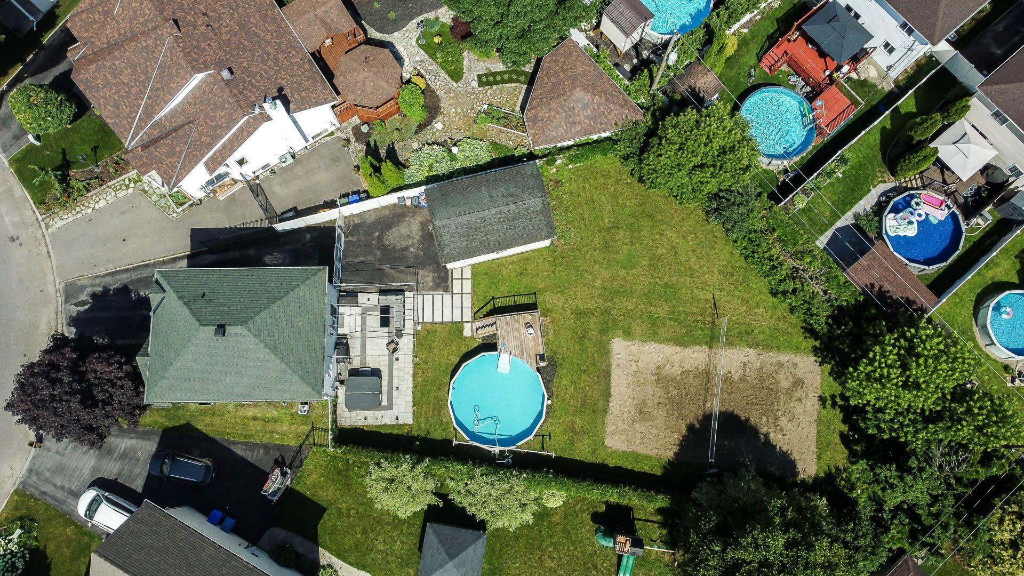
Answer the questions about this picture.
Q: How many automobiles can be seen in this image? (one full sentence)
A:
Looking from above, you can make out 2 automobiles.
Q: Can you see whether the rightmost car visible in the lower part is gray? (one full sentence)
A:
No, the rightmost car visible in the lower part is black.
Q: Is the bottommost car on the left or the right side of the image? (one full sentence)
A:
The bottommost car sits on the left side.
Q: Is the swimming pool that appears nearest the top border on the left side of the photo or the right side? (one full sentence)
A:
The swimming pool that appears nearest the top border sits on the right side.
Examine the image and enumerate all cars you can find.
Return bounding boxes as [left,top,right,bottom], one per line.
[74,493,134,538]
[149,450,222,488]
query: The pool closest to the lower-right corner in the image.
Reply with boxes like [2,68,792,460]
[972,288,1024,363]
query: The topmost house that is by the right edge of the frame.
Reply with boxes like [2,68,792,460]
[837,0,990,80]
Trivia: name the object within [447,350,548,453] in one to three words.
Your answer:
swimming pool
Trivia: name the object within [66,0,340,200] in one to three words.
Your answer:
house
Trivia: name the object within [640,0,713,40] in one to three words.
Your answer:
swimming pool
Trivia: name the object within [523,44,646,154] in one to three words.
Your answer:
building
